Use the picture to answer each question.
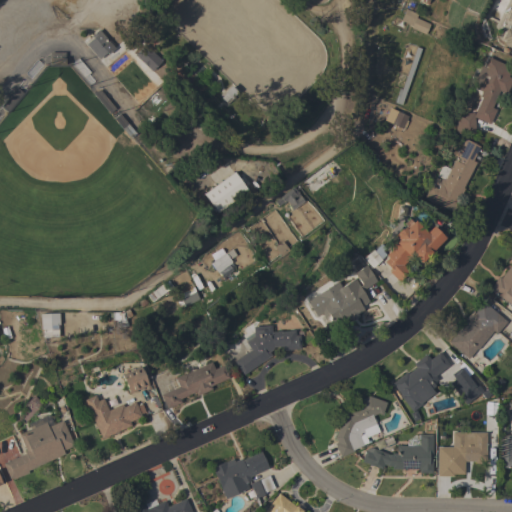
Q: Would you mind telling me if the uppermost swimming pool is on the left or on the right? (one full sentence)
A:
You can find the uppermost swimming pool on the right side of the picture.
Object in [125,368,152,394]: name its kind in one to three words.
building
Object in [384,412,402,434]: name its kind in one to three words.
swimming pool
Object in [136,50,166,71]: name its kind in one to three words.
house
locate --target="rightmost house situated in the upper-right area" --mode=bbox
[458,58,512,133]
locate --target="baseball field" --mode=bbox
[0,66,196,296]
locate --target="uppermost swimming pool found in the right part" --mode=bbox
[484,339,504,361]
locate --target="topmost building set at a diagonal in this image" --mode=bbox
[403,10,432,34]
